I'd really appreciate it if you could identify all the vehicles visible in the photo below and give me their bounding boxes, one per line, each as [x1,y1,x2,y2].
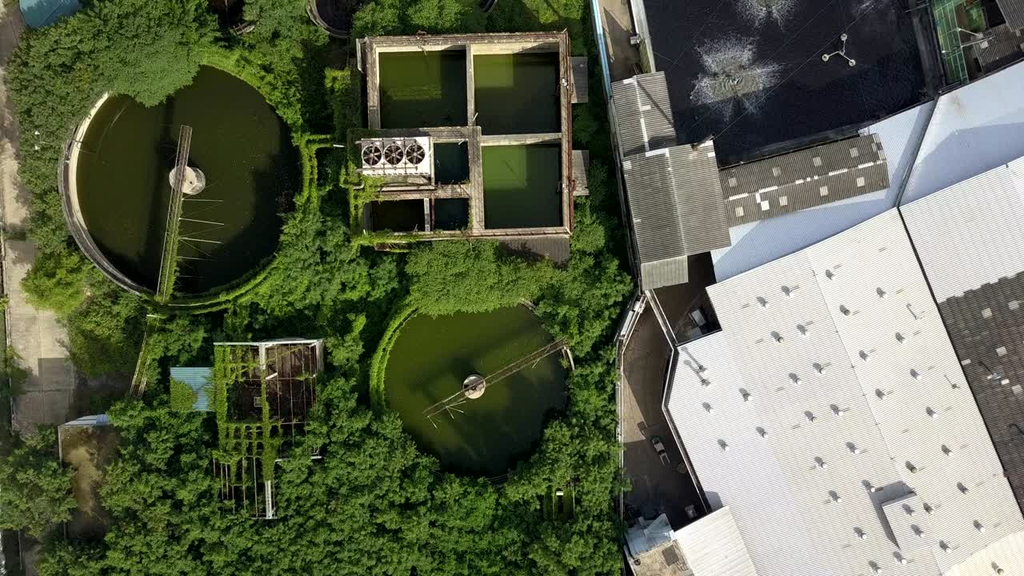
[648,432,668,464]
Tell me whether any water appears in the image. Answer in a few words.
Yes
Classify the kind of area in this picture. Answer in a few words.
industrial area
